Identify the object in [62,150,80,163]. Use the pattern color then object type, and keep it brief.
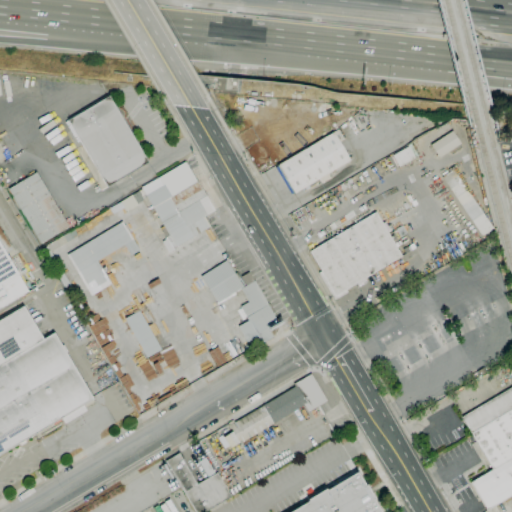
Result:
white vehicle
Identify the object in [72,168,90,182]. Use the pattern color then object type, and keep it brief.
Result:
white vehicle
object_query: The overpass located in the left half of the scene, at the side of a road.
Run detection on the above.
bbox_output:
[105,0,230,128]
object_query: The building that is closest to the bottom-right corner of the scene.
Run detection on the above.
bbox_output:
[470,456,512,510]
